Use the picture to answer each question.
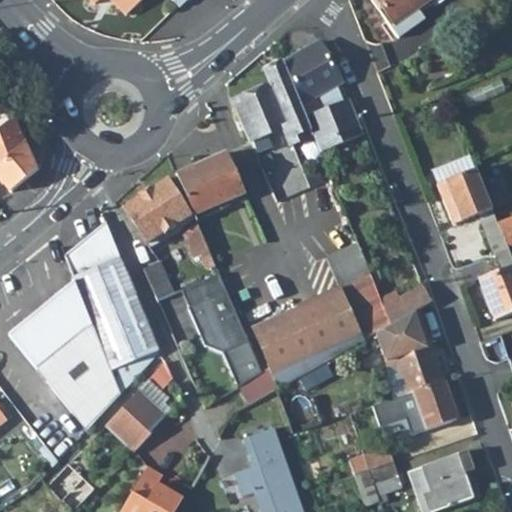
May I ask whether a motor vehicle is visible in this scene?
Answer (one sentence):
Yes, I can see a motor vehicle in this picture.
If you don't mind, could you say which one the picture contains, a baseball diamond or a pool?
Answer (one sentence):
The image shows a pool.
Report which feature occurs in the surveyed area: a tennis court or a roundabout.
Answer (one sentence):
Visible in the photo is a roundabout.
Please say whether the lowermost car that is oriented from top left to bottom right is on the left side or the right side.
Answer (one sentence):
The lowermost car that is oriented from top left to bottom right is on the left side of the image.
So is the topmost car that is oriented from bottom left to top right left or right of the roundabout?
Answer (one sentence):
From the viewer's perspective, the topmost car that is oriented from bottom left to top right falls to the right of the roundabout.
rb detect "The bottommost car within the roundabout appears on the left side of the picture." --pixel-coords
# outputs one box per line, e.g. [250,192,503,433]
[98,130,122,144]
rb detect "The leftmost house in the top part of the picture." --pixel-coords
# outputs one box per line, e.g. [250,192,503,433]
[0,112,40,192]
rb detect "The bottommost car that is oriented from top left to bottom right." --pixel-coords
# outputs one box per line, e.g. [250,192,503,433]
[58,413,78,435]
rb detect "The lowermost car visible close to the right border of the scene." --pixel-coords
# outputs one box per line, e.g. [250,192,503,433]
[493,340,508,361]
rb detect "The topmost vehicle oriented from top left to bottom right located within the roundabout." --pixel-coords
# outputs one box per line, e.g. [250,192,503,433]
[62,96,79,117]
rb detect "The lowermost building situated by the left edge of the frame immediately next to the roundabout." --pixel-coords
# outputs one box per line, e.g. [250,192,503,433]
[9,225,160,428]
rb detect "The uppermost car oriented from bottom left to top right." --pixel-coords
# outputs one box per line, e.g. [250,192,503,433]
[210,49,233,70]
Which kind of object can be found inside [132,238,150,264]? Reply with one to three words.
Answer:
vehicle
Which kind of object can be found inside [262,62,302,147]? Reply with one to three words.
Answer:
house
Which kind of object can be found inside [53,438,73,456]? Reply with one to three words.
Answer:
car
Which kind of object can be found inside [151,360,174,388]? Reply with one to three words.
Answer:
shed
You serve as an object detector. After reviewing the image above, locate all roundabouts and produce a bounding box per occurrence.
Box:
[52,40,185,170]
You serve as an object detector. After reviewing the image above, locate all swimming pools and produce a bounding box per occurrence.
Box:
[292,398,318,422]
